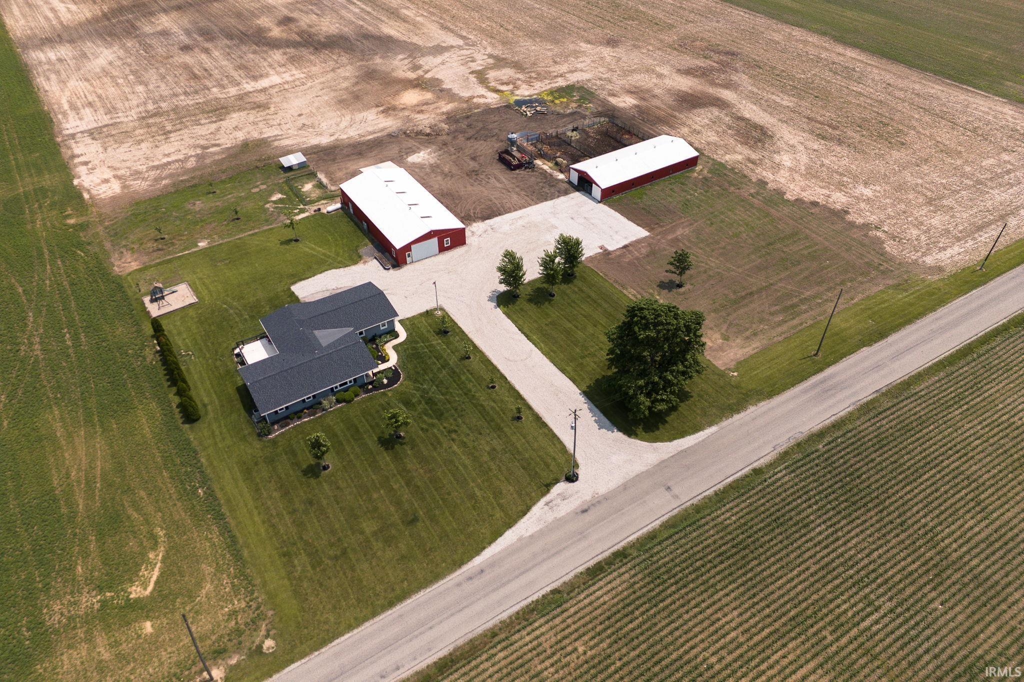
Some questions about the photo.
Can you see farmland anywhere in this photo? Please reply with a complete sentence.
Yes, there is farmland in the image.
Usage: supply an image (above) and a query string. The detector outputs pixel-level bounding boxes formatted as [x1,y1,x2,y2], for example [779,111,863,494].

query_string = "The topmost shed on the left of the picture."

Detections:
[278,150,308,171]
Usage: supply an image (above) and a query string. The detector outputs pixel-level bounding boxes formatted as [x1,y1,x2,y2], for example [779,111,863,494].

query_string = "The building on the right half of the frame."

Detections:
[569,135,700,202]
